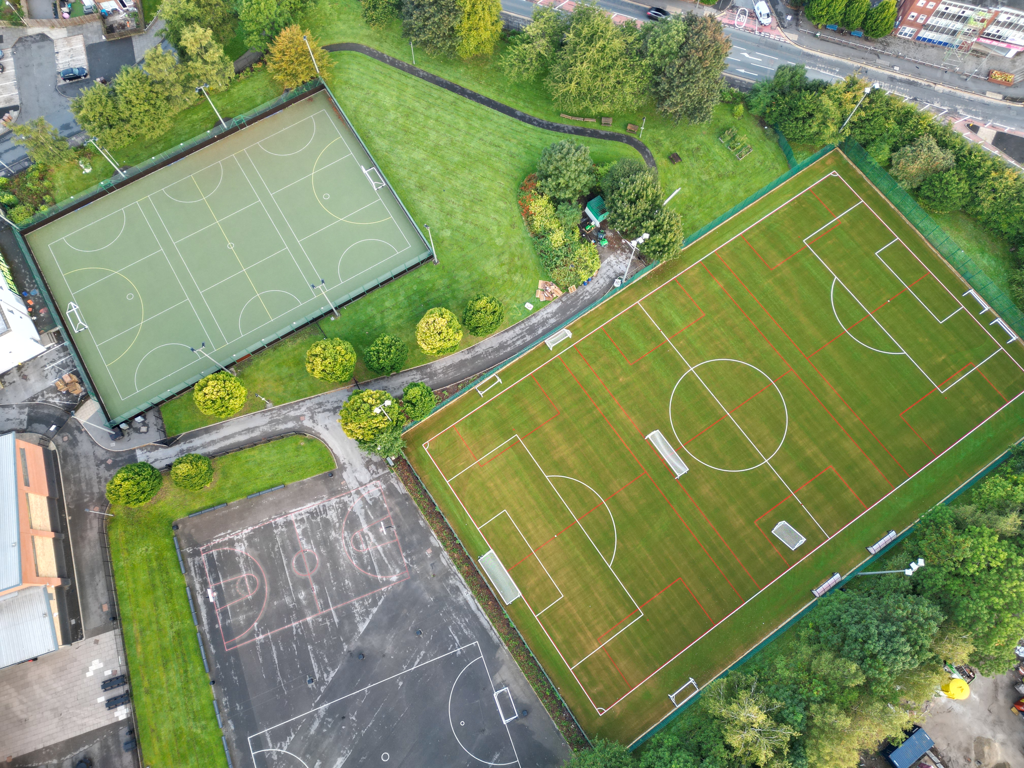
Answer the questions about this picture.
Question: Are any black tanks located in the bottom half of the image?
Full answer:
No, no black tank appears in the bottom half of the image.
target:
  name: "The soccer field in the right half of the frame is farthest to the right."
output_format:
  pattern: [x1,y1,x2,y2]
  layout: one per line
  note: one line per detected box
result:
[403,147,1024,744]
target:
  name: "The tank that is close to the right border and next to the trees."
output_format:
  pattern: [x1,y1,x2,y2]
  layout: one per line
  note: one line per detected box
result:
[936,674,974,704]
